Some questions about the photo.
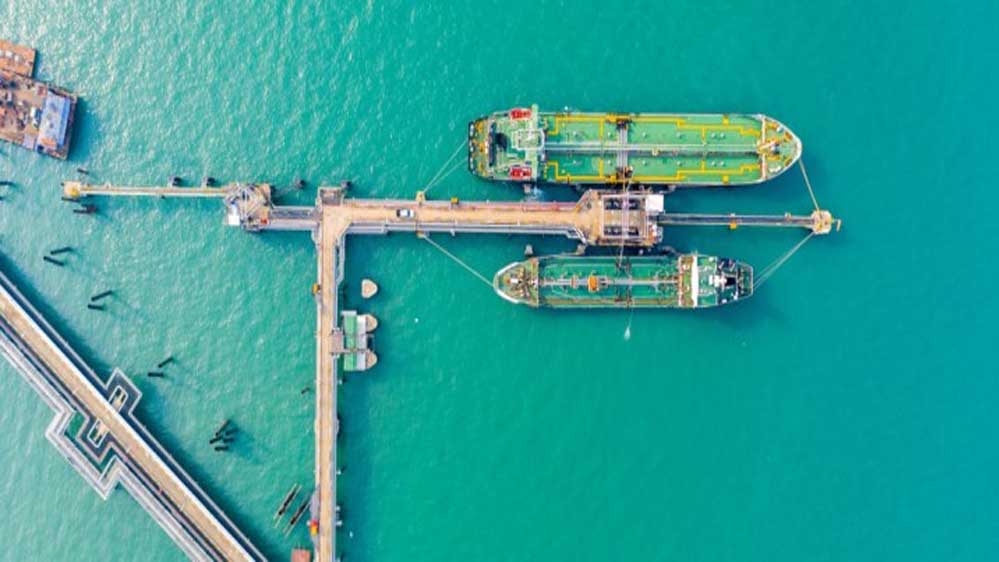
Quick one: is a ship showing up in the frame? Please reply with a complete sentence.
Yes, the picture does show a ship.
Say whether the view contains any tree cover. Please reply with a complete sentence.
No, there is no tree cover in the image.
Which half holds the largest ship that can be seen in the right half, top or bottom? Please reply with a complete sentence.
You can find the largest ship that can be seen in the right half in the top half.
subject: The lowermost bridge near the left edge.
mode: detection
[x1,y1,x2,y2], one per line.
[0,271,271,562]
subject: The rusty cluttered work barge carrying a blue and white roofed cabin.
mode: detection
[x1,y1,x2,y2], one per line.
[0,66,81,160]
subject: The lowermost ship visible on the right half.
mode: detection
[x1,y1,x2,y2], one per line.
[493,255,754,307]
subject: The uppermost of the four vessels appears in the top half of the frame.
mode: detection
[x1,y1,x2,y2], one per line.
[0,41,37,78]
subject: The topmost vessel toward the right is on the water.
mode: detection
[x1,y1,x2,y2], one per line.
[470,104,805,189]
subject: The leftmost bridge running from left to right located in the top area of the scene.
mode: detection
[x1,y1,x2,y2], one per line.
[80,183,229,196]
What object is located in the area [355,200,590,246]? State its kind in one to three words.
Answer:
pier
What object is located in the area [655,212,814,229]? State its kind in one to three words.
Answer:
bridge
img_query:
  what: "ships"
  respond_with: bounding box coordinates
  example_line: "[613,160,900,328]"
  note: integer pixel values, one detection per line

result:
[493,255,754,307]
[470,104,805,189]
[0,66,81,160]
[0,41,37,78]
